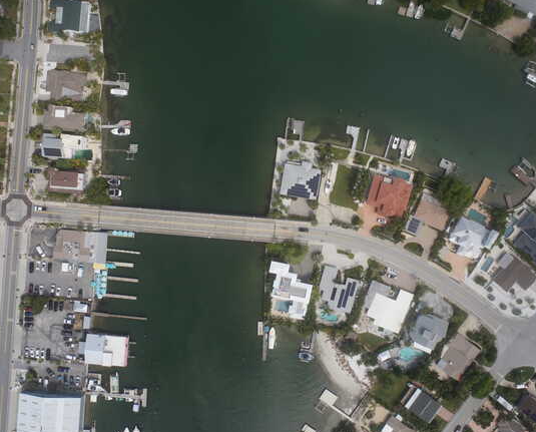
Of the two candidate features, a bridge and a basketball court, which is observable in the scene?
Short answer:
bridge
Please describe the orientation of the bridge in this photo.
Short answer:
from left to right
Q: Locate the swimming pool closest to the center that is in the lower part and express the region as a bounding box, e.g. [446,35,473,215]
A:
[275,299,293,313]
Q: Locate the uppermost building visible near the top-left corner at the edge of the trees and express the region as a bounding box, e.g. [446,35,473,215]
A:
[48,0,92,35]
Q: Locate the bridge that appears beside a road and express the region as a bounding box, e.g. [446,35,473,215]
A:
[107,205,267,242]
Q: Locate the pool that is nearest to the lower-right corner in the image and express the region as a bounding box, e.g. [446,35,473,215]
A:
[398,347,425,363]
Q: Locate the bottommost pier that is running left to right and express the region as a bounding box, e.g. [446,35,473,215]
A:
[84,388,148,407]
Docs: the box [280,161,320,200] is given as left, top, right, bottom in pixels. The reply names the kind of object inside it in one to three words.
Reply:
house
